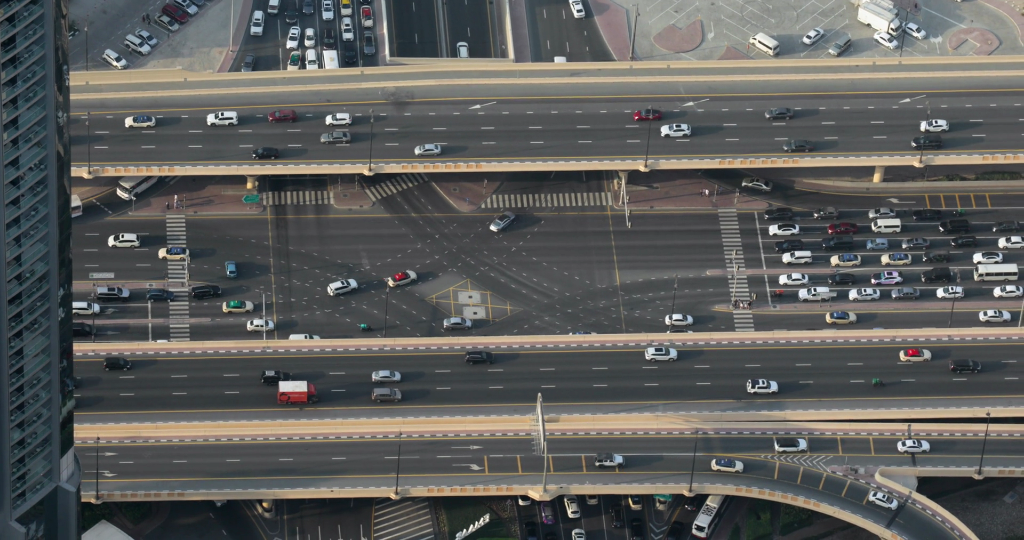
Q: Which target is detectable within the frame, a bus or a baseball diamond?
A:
bus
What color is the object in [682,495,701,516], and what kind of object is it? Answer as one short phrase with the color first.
black car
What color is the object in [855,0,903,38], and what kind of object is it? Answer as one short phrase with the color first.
white truck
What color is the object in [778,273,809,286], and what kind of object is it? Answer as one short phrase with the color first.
white vehicle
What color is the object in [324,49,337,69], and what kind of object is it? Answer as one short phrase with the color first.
white vehicle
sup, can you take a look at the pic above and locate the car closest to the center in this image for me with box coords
[489,212,516,231]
